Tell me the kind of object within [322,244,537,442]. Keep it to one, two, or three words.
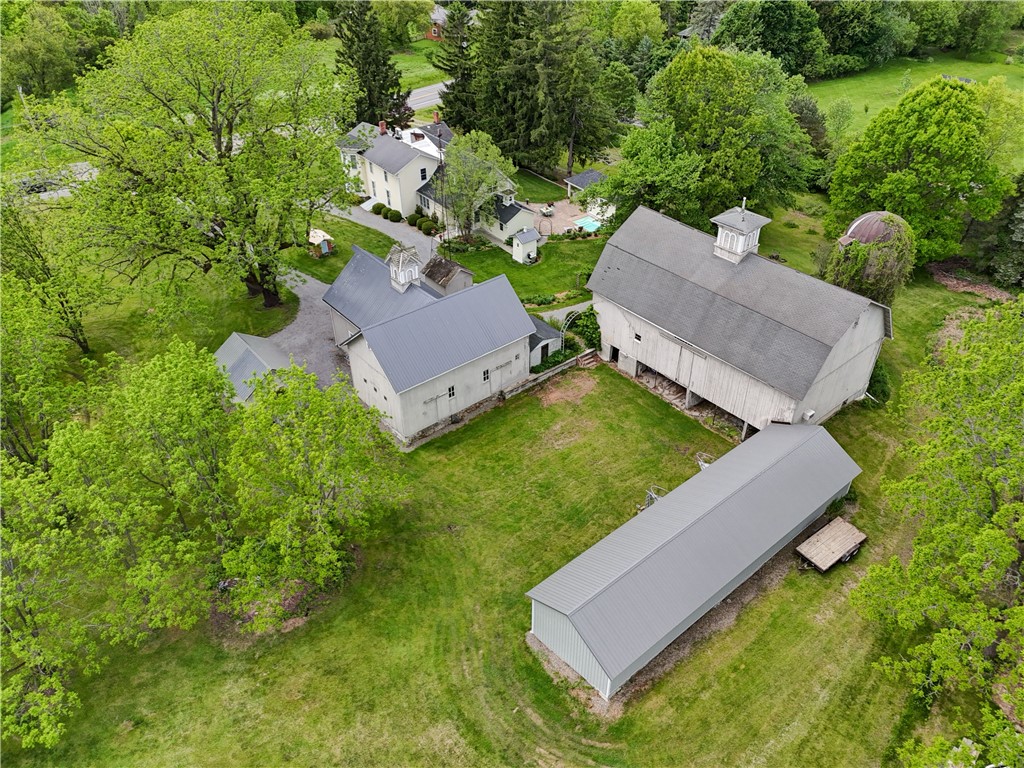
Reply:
barn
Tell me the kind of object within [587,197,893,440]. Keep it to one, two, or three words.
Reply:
barn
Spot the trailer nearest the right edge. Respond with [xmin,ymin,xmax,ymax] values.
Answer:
[796,516,867,572]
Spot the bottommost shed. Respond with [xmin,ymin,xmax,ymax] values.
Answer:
[525,423,857,705]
